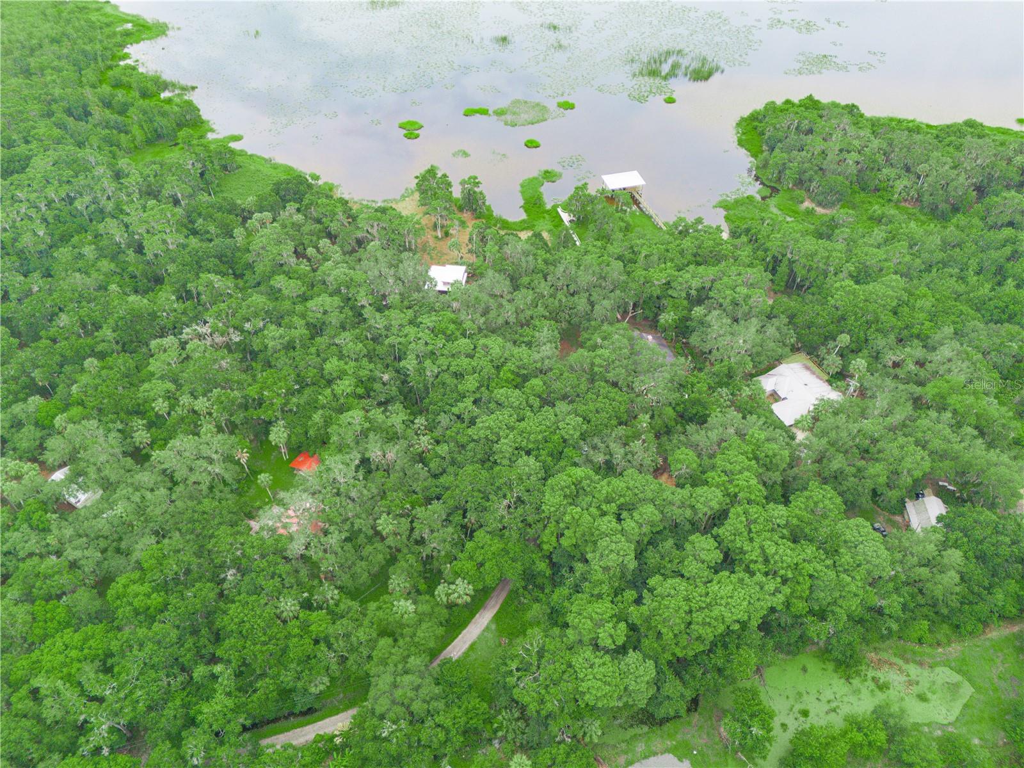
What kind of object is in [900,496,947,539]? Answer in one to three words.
shed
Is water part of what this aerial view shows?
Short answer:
Yes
